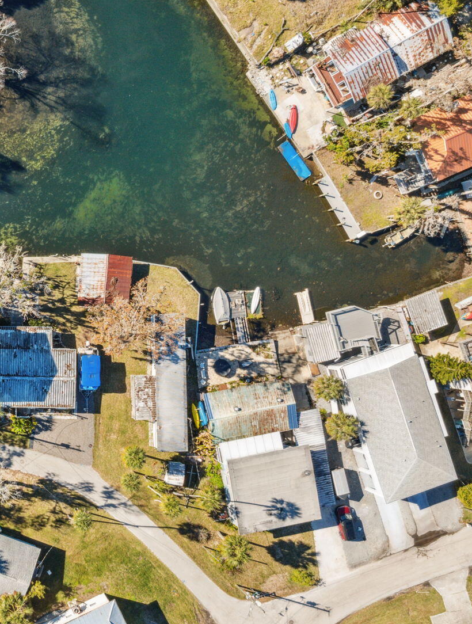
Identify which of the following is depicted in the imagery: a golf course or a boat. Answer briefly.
boat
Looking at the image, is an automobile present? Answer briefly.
Yes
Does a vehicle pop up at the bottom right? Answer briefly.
Yes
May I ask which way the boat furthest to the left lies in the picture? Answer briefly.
up and down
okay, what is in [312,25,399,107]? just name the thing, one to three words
house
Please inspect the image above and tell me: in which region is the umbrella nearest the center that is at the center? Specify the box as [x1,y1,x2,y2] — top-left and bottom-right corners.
[212,359,229,376]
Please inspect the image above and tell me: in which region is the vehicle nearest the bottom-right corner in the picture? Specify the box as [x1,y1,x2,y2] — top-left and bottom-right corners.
[338,505,363,543]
